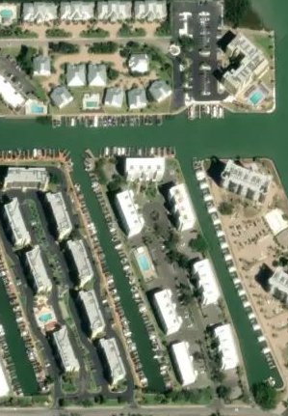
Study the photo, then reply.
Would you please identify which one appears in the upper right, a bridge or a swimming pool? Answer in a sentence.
It is a swimming pool that can be seen in the upper right.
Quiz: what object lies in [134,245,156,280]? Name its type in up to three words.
swimming pool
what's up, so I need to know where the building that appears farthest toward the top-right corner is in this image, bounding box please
[220,34,269,101]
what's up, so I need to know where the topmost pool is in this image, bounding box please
[0,3,16,25]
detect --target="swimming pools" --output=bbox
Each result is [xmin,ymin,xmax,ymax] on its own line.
[35,304,55,327]
[26,98,46,115]
[134,245,156,280]
[244,83,269,109]
[0,3,16,25]
[82,94,99,110]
